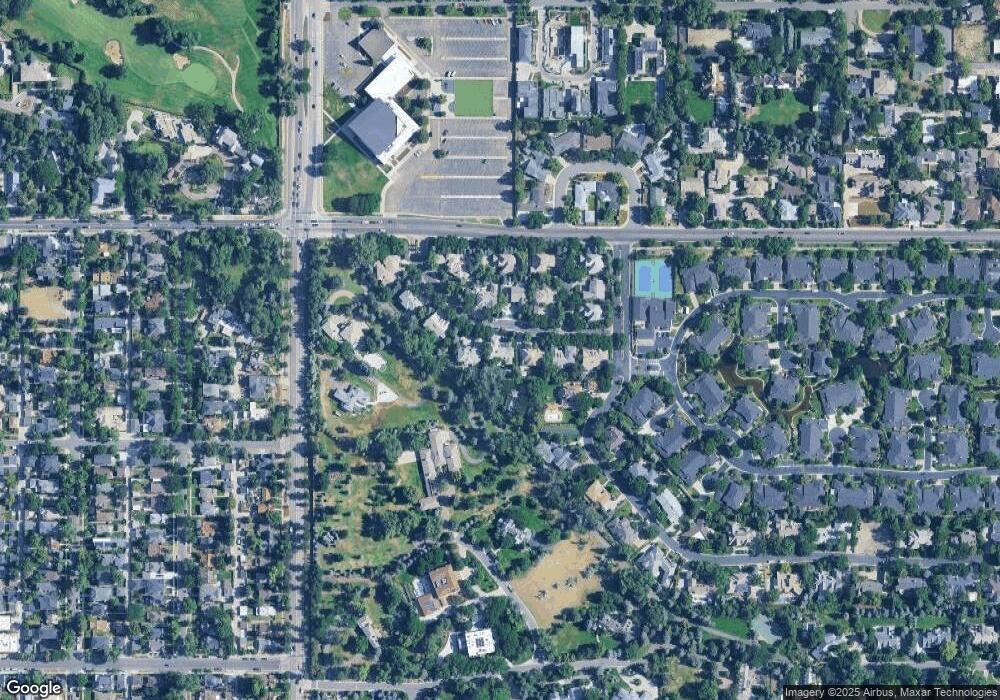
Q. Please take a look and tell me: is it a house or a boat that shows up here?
house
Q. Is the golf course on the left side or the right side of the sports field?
on the left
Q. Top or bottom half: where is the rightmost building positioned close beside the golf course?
top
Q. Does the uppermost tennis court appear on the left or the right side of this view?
right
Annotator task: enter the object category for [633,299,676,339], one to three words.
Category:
building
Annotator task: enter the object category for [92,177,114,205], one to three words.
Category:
house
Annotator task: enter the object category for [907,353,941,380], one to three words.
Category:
house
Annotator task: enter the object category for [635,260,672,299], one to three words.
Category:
tennis court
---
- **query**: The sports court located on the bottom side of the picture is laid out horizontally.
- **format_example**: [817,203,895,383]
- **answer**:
[540,424,579,436]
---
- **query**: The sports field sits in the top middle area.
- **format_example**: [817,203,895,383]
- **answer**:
[454,80,493,117]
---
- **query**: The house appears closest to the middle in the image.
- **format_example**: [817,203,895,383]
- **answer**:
[491,335,514,363]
